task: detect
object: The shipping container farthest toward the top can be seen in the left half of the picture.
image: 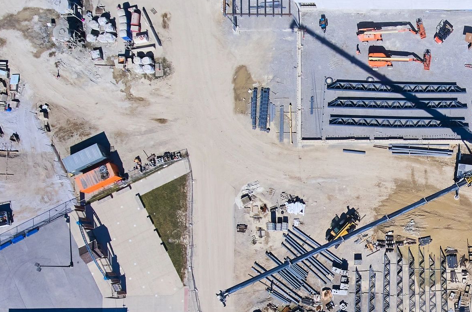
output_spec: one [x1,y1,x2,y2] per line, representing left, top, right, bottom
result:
[66,143,112,175]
